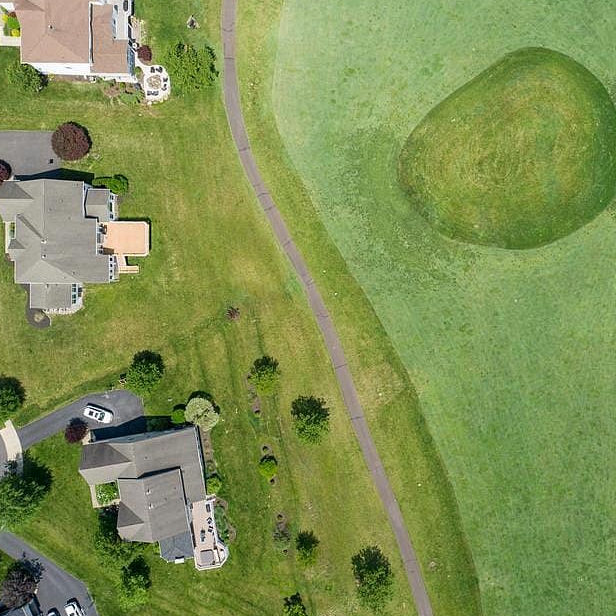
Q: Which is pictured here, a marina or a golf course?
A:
golf course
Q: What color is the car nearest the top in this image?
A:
white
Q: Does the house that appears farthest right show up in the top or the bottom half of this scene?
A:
bottom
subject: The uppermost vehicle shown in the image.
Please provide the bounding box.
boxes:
[83,404,114,424]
